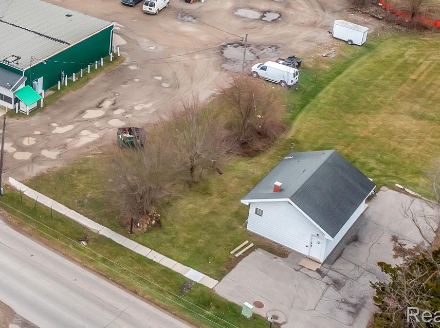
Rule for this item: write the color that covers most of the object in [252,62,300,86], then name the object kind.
white vehicle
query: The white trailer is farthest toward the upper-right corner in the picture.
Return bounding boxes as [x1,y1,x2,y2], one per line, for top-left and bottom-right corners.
[328,16,372,40]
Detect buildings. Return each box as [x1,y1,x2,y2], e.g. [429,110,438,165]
[0,0,117,110]
[239,143,378,266]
